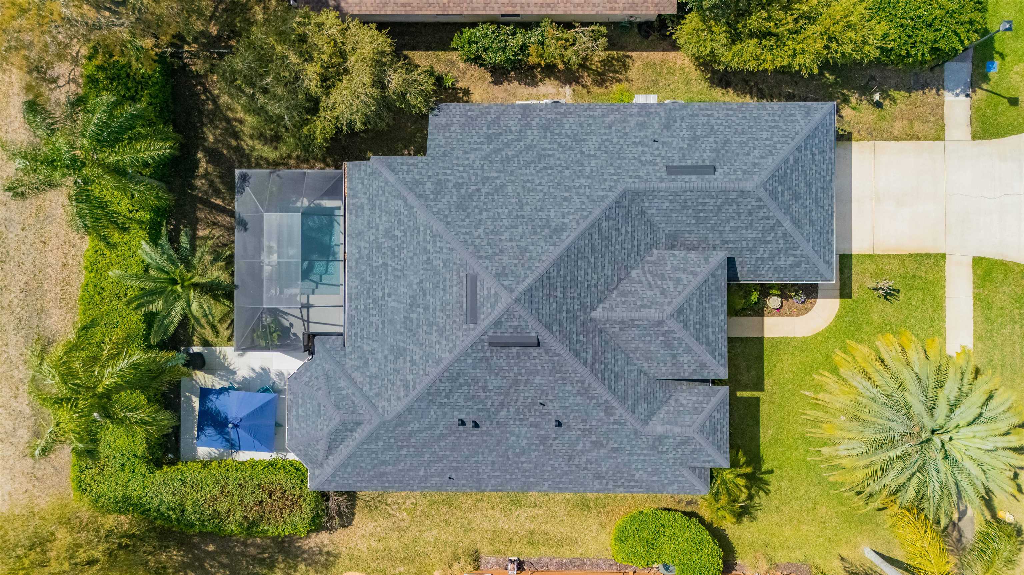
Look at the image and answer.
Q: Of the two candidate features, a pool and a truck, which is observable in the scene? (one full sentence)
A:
Visible in the photo is a pool.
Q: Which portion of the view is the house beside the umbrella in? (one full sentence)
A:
The house beside the umbrella sits in the center section of the image.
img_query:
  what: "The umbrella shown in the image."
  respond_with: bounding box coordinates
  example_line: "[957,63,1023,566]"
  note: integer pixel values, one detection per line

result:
[197,387,279,460]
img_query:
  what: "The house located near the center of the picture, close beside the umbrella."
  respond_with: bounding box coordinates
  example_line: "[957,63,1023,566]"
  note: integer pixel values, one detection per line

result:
[284,102,836,495]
